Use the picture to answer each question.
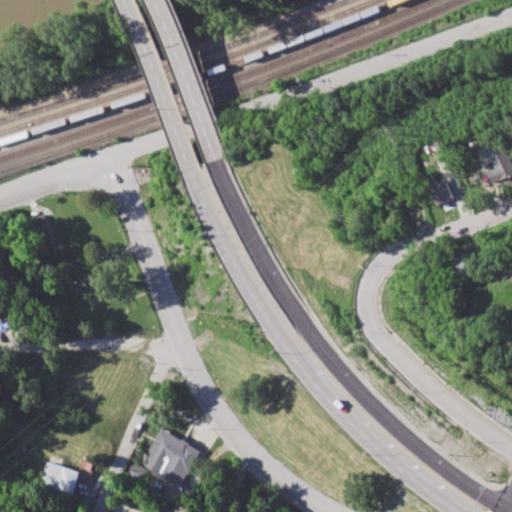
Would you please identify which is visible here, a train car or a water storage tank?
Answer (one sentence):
There is a train car in the scene.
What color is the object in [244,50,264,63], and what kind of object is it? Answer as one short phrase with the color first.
white rail car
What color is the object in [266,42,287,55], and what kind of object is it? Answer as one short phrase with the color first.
white rail car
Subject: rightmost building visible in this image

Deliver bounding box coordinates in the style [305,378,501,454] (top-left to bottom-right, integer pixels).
[480,145,512,184]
